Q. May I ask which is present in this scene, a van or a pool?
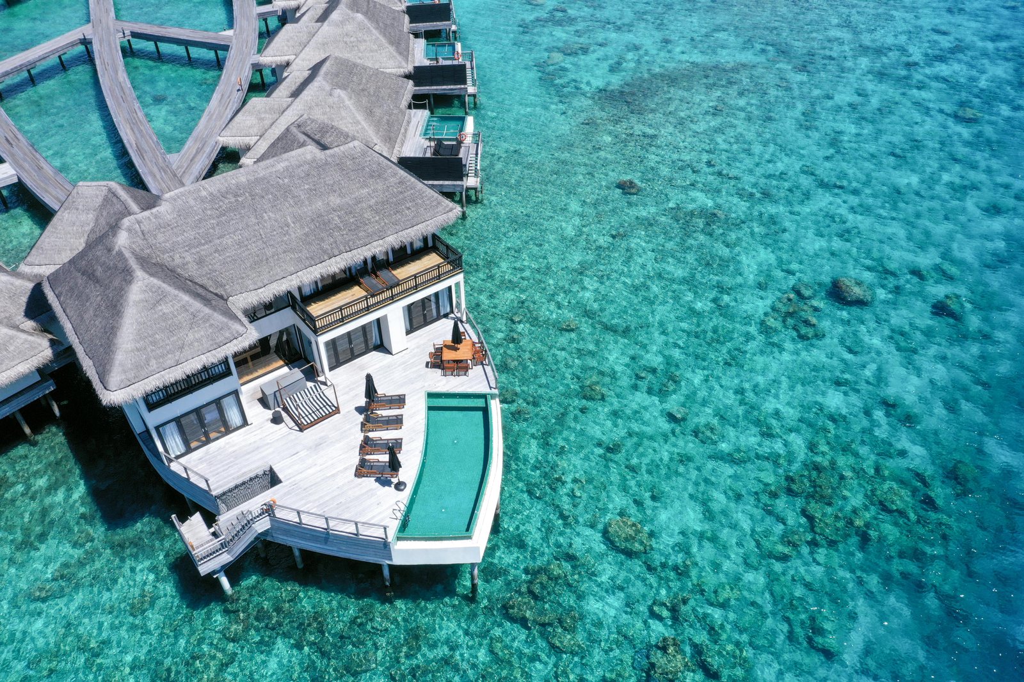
pool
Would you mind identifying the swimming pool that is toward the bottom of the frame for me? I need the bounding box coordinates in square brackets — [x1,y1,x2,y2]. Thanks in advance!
[392,391,504,604]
